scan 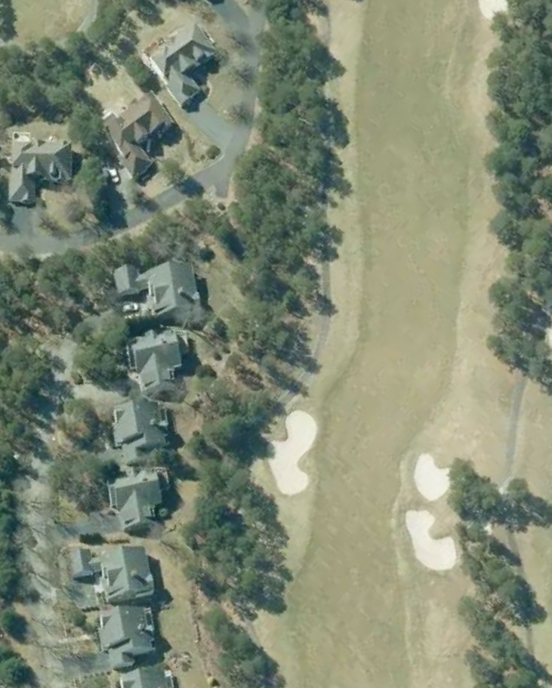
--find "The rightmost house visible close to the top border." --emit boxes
[150,24,215,111]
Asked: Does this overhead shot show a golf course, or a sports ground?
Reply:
golf course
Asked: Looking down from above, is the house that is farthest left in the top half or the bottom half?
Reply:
top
